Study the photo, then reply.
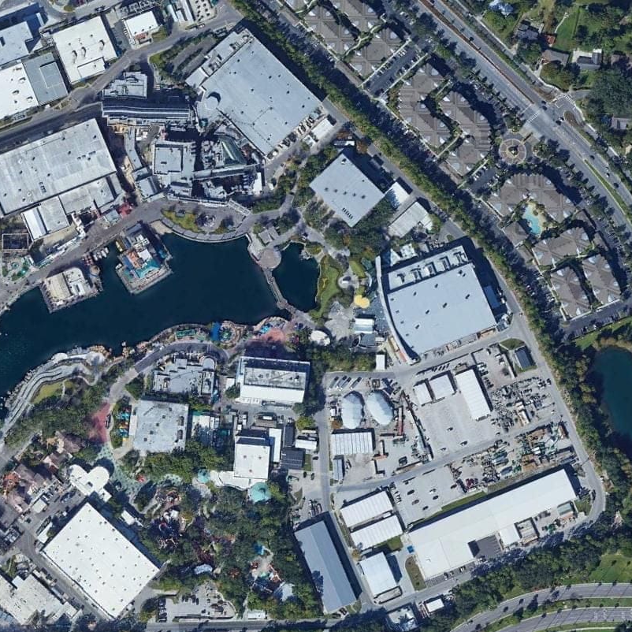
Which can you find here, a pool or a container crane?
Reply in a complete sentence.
There is a pool in the scene.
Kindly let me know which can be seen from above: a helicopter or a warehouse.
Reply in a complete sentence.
Of the two, only a warehouse appears.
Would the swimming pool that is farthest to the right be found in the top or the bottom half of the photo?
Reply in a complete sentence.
The swimming pool that is farthest to the right sits in the top half of the picture.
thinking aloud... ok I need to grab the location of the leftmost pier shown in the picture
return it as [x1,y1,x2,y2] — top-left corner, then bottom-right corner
[41,267,102,312]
